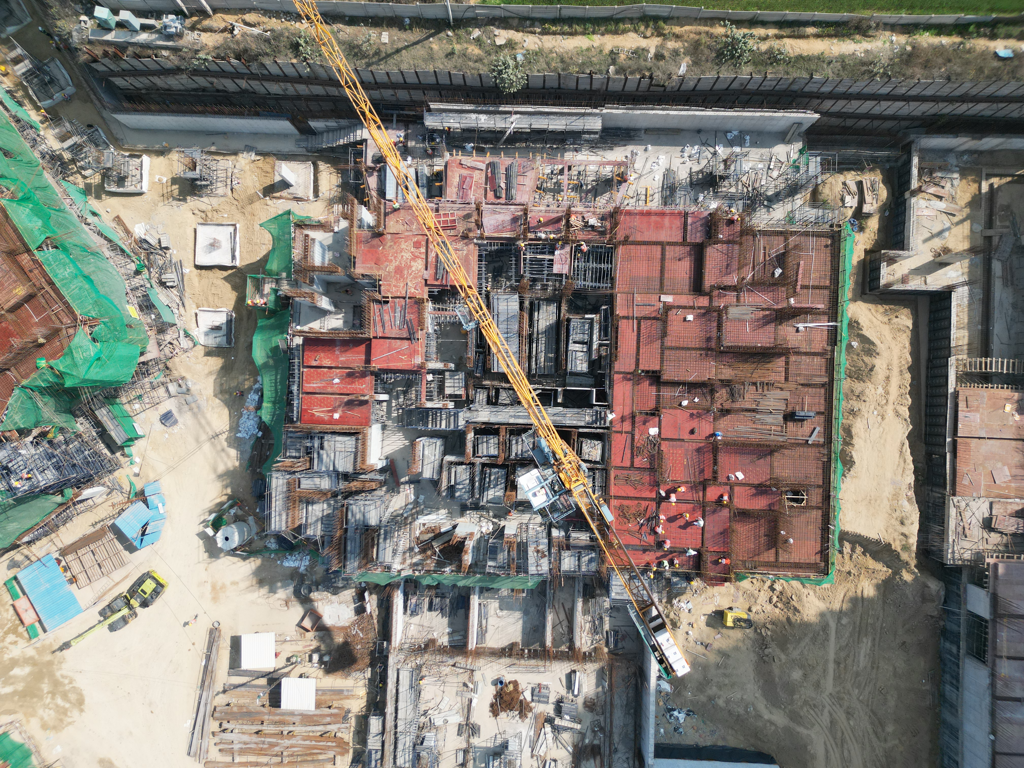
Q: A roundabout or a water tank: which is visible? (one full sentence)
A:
It is a water tank that can be seen here.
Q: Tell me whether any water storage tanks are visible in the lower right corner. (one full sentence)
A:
No, there is no water storage tank in the lower right corner.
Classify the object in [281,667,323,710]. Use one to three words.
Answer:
shed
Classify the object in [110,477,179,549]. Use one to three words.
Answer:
shed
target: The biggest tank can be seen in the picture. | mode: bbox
[205,508,257,549]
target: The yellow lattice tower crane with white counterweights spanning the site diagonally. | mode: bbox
[296,0,699,687]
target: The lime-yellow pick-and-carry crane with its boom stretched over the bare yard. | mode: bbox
[62,564,175,656]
